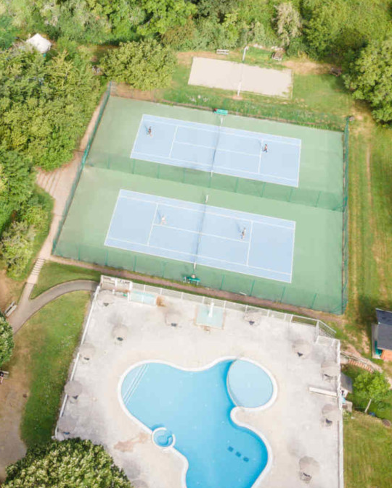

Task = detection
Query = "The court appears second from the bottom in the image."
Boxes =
[84,96,344,212]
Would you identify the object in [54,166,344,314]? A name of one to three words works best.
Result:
tennis court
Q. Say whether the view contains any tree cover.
Yes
